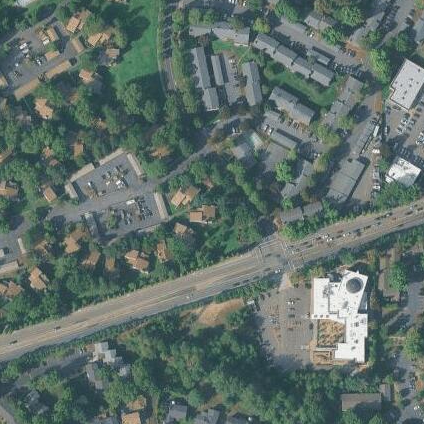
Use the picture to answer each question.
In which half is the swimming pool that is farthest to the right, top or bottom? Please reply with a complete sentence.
The top half of the photo is where the swimming pool that is farthest to the right is.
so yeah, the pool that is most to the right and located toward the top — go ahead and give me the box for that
[245,131,266,150]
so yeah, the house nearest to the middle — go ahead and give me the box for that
[190,203,215,224]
